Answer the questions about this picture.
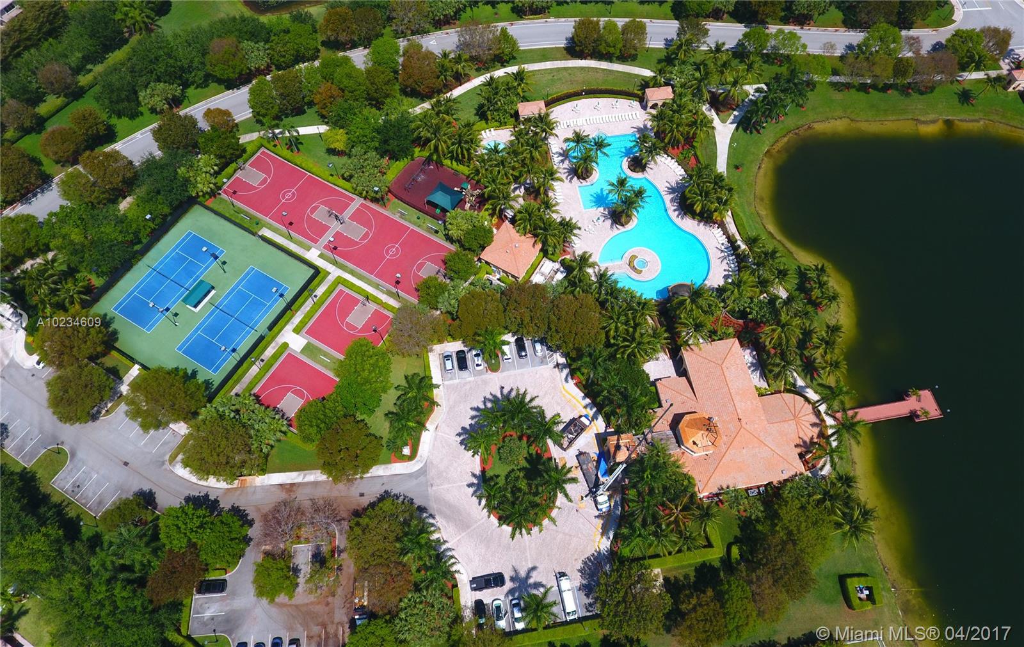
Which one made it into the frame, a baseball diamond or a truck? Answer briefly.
truck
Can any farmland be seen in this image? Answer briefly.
No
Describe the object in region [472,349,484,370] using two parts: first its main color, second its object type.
white vehicle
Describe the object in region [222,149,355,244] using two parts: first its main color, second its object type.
red basketball court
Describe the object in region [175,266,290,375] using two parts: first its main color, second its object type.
blue tennis court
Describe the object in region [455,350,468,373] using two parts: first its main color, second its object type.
black vehicle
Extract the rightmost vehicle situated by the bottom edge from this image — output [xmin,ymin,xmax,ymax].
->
[554,572,579,619]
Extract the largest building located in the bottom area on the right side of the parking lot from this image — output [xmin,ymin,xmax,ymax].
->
[601,336,820,498]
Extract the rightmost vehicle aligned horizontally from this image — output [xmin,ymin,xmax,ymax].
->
[473,573,504,589]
